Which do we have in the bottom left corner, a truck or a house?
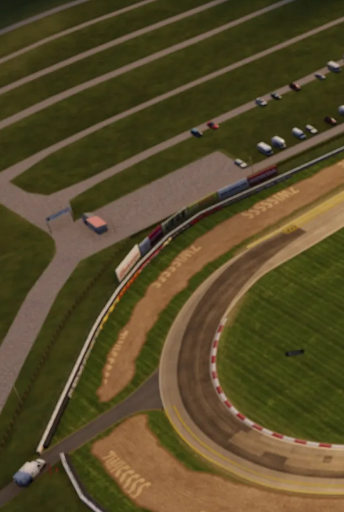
truck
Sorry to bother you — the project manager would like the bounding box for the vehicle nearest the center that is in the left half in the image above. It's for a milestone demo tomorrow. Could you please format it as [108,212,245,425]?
[82,214,104,233]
